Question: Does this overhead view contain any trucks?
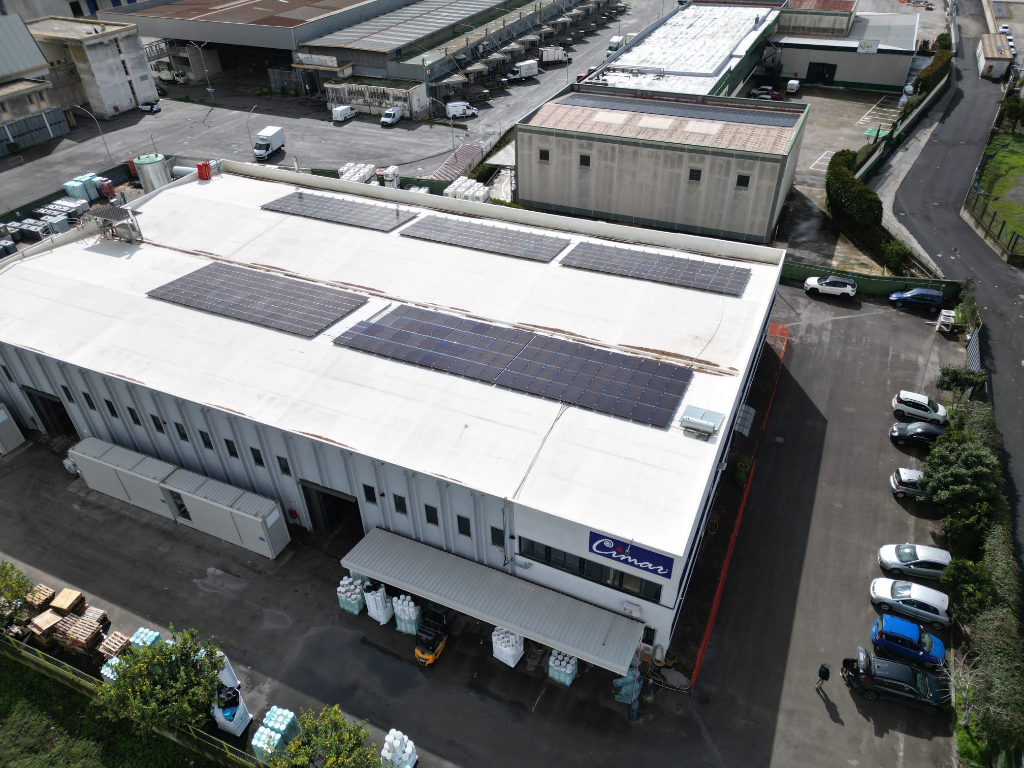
Yes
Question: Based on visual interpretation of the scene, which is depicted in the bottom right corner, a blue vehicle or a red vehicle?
blue vehicle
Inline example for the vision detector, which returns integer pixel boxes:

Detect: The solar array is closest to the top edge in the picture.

[559,96,796,127]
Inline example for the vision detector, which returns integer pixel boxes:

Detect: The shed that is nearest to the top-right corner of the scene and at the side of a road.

[976,35,1014,78]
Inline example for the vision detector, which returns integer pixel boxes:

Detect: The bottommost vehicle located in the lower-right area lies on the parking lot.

[840,641,955,717]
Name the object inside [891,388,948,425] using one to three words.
car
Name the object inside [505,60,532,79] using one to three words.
vehicle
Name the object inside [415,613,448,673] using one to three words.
work vehicle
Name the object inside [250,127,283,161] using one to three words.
truck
